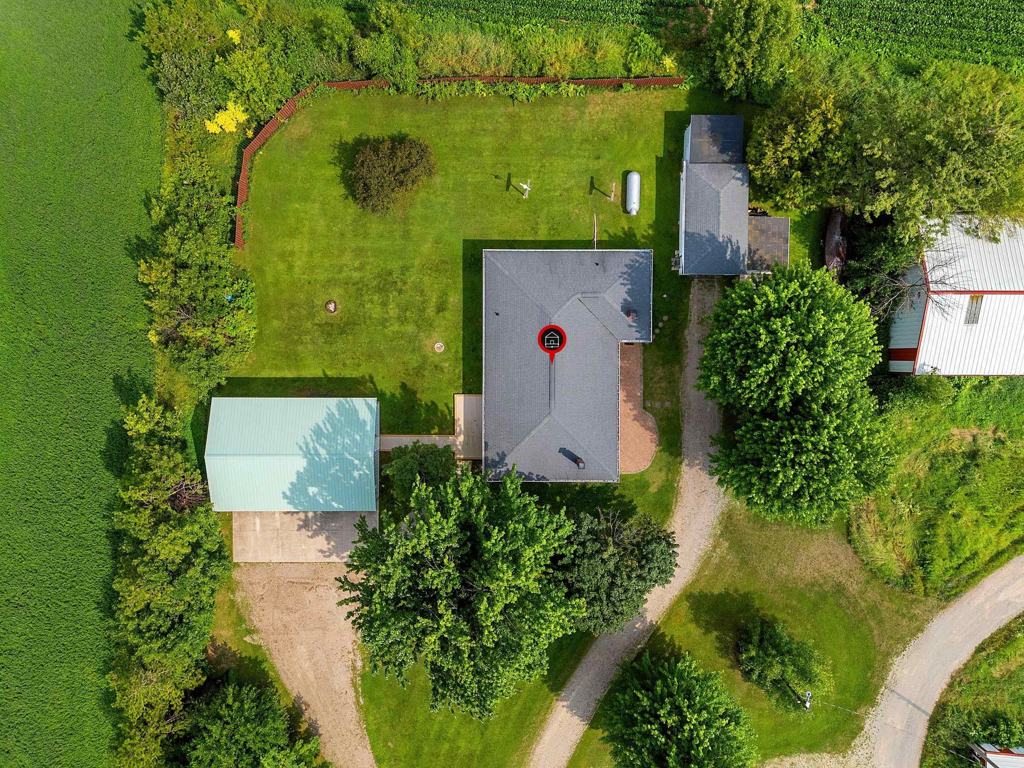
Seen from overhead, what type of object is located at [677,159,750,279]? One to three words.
shed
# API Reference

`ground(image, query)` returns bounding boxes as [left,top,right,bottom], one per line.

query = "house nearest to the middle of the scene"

[481,248,655,484]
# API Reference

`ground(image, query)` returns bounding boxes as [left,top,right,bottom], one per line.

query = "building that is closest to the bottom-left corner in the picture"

[204,397,381,511]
